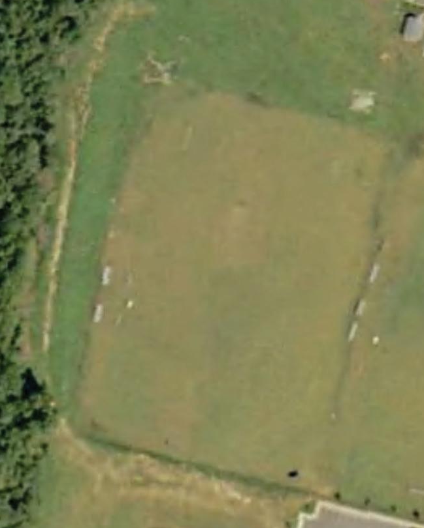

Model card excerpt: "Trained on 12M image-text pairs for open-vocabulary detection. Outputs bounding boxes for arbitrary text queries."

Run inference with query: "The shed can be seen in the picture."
[403,16,424,41]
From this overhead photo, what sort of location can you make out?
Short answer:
sports ground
